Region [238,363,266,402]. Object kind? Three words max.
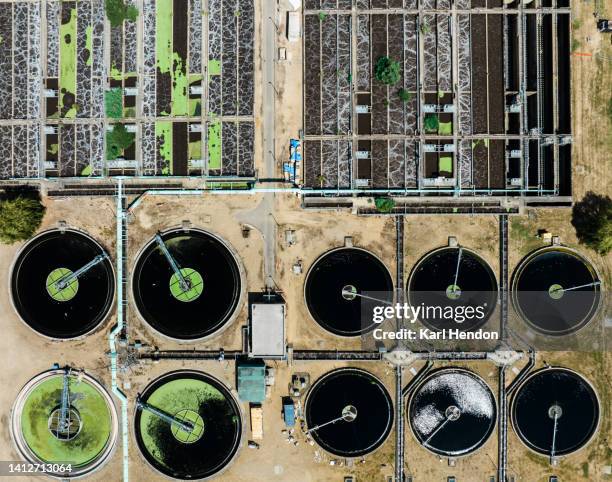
shed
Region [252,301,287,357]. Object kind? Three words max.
building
